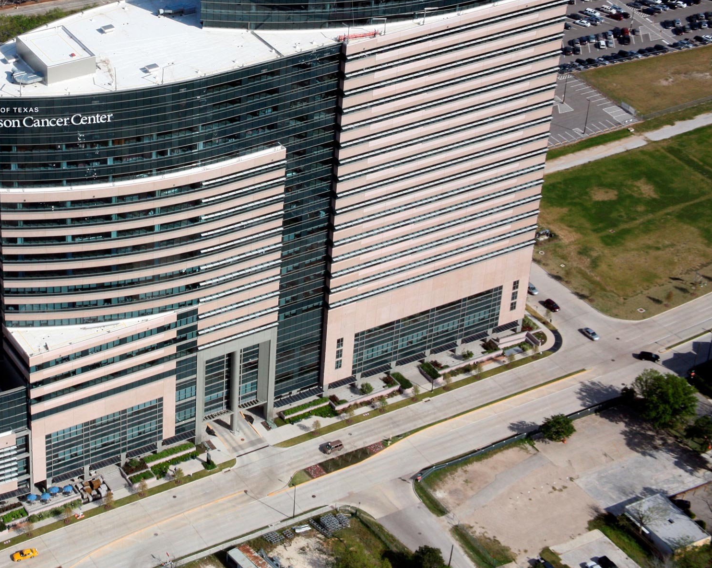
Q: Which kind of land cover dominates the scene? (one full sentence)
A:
What you mostly see from above here is buildings.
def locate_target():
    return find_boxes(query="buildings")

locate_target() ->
[0,0,569,488]
[227,545,274,568]
[624,494,712,566]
